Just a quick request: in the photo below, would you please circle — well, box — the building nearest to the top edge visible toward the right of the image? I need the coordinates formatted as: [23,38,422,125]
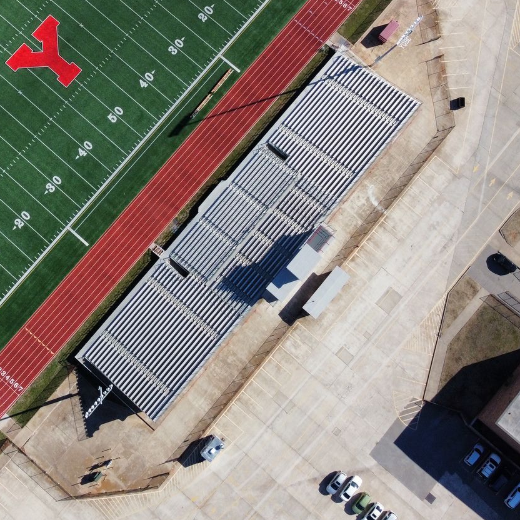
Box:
[302,266,350,319]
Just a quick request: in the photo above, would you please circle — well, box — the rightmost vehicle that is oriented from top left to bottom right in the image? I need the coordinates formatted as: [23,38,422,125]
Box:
[493,252,520,275]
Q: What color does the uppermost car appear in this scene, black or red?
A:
black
